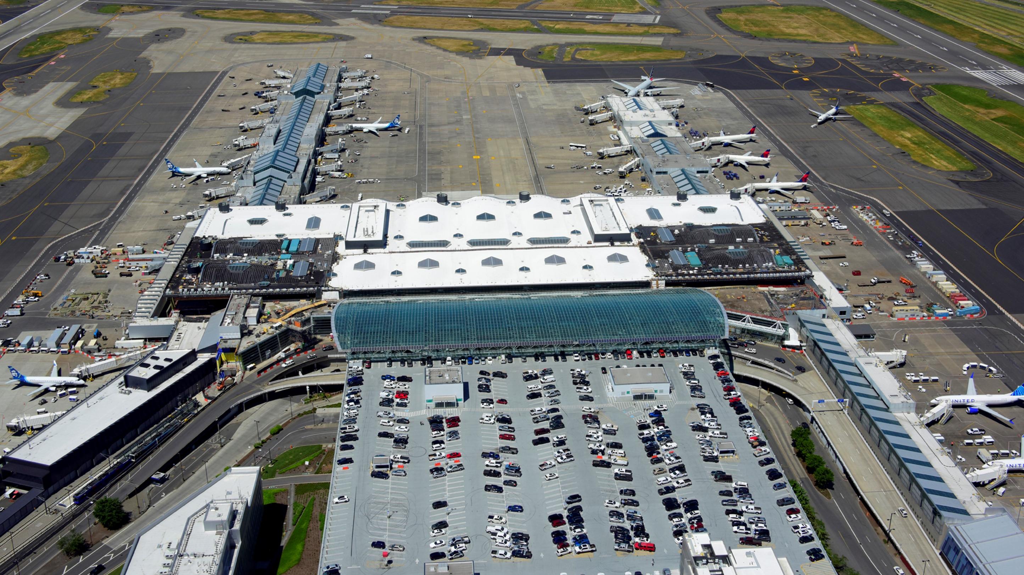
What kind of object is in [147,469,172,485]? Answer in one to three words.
vehicle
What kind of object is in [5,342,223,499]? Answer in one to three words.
building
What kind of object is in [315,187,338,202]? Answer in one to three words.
jet bridge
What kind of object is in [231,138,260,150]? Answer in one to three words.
jet bridge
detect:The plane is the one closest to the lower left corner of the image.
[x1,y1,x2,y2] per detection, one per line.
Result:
[3,361,85,397]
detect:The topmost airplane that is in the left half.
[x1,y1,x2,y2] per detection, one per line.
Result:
[342,113,402,132]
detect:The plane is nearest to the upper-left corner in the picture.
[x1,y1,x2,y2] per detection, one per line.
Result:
[164,157,231,179]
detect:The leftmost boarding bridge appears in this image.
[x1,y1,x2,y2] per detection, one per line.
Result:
[5,409,70,435]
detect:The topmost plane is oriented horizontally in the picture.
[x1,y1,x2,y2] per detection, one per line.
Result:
[620,69,674,96]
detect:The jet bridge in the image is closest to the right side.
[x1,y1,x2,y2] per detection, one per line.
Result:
[964,463,1012,488]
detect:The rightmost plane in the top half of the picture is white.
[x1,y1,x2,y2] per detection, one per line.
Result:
[807,96,860,124]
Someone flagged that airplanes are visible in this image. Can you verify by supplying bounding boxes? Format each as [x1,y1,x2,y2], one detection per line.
[930,372,1024,422]
[982,458,1024,470]
[741,169,816,194]
[807,96,860,124]
[164,157,231,179]
[703,125,760,145]
[3,361,85,397]
[620,69,674,96]
[712,147,774,166]
[342,113,402,132]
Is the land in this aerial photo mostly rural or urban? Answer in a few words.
urban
